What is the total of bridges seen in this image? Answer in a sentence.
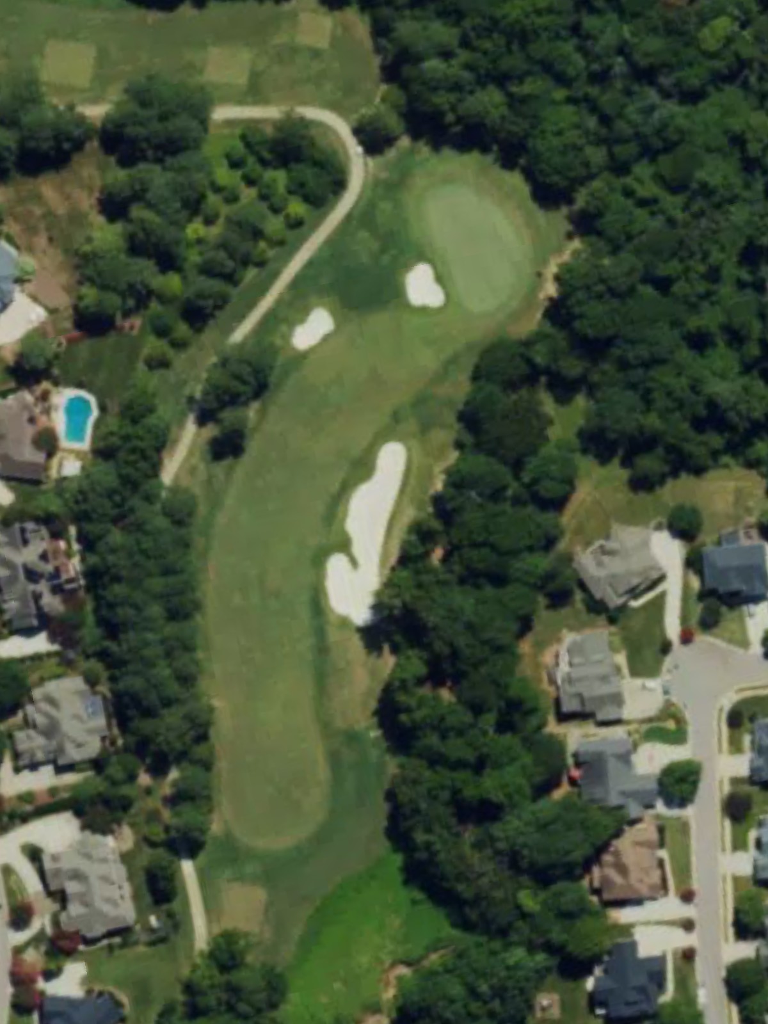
The count of bridges is 0.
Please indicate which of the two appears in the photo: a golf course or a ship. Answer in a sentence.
The one in the frame is a golf course.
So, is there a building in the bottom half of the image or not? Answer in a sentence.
Yes, a building can be seen in the bottom half of the image.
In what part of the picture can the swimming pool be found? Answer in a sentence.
The swimming pool is in the left part of the image.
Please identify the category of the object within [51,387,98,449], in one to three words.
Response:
swimming pool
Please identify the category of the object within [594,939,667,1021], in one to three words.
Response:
house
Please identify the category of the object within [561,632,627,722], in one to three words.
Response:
house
